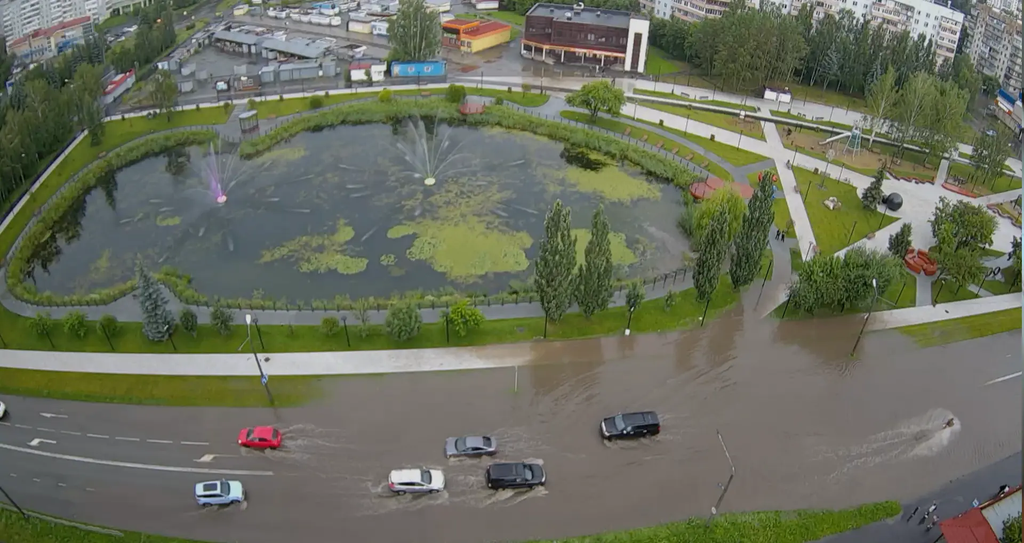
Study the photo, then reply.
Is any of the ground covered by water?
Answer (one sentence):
Yes, there is water in the image.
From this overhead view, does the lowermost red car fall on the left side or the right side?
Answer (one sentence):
The lowermost red car is on the left side of the image.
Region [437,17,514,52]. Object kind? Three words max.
building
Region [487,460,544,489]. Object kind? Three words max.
car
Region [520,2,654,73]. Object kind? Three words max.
building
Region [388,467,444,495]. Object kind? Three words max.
car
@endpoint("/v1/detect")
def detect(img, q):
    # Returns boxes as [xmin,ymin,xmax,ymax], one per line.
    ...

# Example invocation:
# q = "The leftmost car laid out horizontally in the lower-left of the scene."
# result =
[187,478,249,509]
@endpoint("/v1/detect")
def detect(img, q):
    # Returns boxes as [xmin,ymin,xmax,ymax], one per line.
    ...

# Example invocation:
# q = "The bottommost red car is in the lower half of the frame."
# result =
[234,427,284,451]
